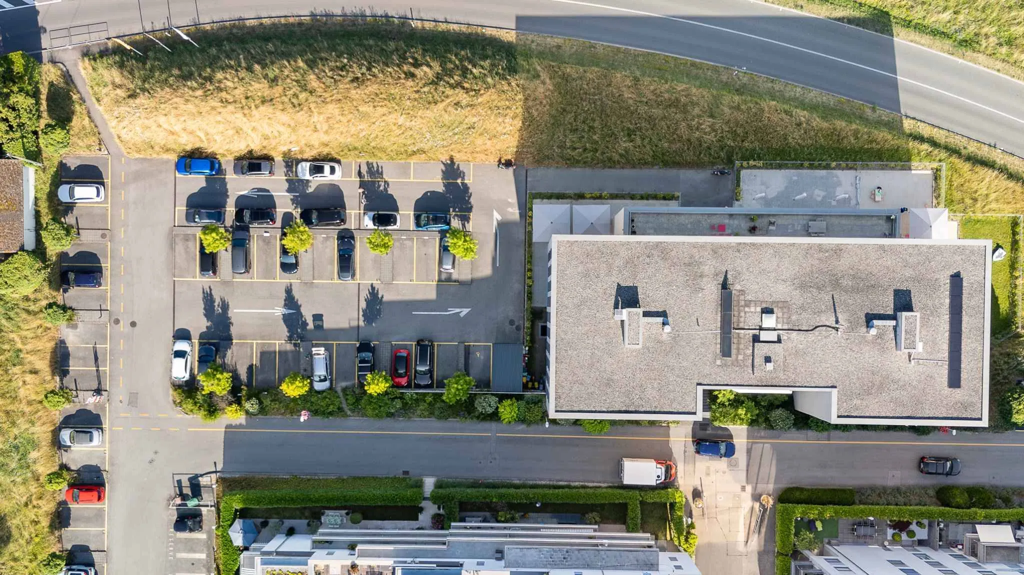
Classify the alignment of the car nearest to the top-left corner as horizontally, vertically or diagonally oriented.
horizontally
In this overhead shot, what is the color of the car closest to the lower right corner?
black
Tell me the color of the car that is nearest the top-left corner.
white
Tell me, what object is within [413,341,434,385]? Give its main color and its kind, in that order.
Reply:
black car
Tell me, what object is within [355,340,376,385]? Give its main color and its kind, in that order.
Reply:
black car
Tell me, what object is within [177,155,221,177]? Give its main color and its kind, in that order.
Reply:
blue car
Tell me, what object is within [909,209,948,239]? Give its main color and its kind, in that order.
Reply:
white umbrella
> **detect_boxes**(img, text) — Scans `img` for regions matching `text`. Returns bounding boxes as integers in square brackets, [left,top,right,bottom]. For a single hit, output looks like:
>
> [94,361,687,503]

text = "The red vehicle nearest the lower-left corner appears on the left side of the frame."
[67,485,107,505]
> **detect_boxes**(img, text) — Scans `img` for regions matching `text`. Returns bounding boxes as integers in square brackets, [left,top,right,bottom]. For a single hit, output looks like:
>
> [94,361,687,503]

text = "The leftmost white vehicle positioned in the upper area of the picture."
[59,182,107,204]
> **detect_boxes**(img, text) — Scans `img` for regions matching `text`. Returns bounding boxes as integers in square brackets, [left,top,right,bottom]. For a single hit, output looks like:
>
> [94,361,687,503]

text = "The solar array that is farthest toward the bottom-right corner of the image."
[949,277,962,388]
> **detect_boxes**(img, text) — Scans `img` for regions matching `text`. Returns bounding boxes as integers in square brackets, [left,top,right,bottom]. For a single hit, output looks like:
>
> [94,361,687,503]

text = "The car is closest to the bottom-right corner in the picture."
[917,456,960,478]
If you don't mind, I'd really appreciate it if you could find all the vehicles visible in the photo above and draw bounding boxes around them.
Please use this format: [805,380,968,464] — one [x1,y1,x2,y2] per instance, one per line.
[364,210,401,230]
[63,269,105,289]
[197,238,219,277]
[196,342,218,382]
[693,439,734,460]
[301,206,347,228]
[414,211,452,232]
[60,428,104,449]
[310,348,331,391]
[279,239,300,274]
[917,456,960,478]
[355,340,376,385]
[390,349,411,387]
[234,157,277,178]
[620,459,680,488]
[176,515,203,534]
[236,207,278,227]
[438,235,456,274]
[171,339,194,382]
[335,231,356,279]
[177,155,221,177]
[298,160,343,181]
[233,229,253,275]
[67,485,107,505]
[413,341,434,385]
[59,182,107,204]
